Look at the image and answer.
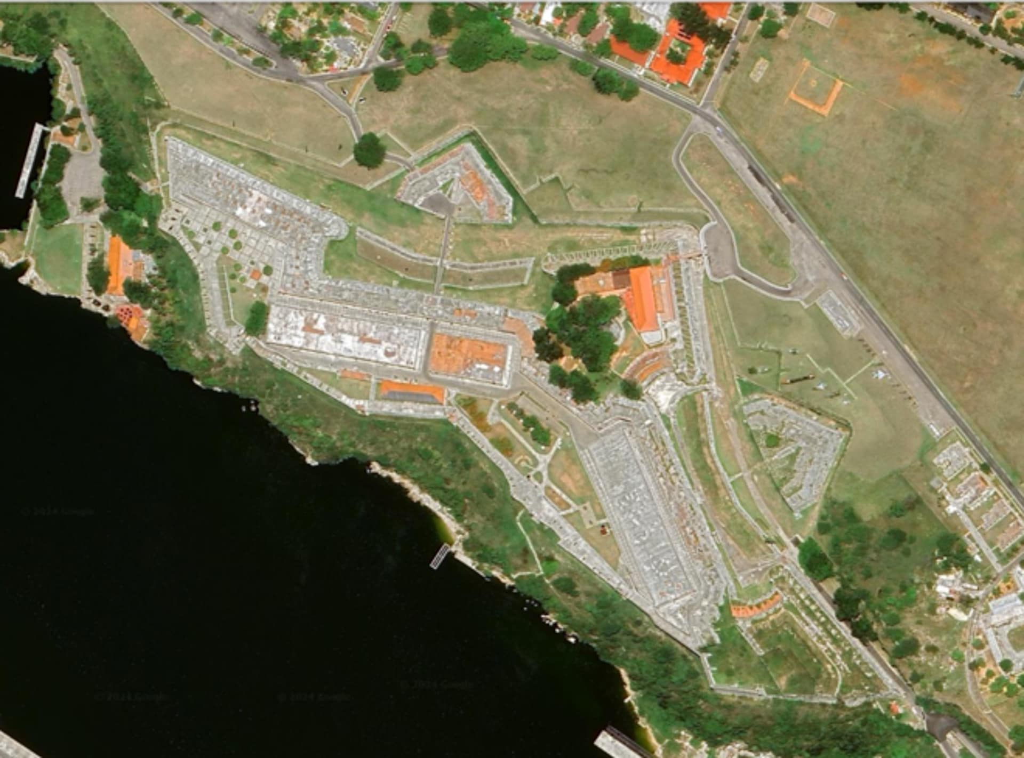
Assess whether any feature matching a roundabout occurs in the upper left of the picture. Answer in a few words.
No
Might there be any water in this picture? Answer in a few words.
Yes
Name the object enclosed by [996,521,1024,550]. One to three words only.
house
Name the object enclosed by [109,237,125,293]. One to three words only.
building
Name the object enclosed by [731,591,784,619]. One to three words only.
building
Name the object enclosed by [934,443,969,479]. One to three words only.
house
